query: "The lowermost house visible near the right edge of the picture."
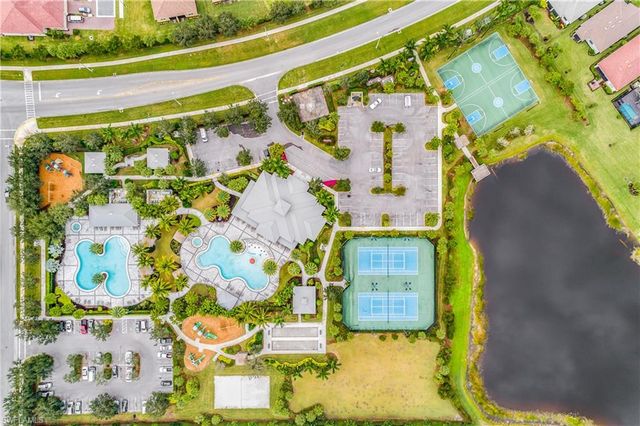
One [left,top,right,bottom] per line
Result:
[593,35,640,92]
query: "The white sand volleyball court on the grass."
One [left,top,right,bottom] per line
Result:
[214,375,270,411]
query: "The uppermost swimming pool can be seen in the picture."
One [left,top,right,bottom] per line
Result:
[617,102,640,125]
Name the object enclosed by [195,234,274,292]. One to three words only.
swimming pool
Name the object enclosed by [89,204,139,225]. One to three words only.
building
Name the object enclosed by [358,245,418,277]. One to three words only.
tennis court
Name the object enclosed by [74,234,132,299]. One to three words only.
swimming pool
